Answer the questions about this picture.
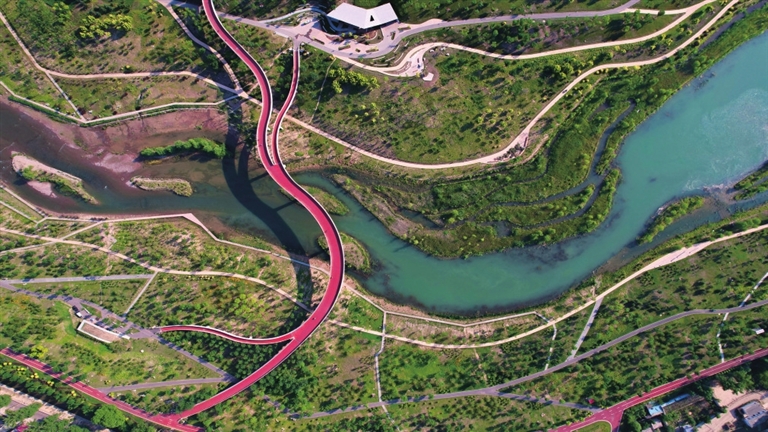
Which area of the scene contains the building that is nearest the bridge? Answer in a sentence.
The building that is nearest the bridge is in the top part of the image.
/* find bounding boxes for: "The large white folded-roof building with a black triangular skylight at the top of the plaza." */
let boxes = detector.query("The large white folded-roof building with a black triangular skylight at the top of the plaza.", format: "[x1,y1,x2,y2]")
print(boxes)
[327,2,398,28]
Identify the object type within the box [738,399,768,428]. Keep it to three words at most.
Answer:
house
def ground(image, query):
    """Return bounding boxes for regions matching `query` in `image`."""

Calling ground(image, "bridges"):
[149,0,345,413]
